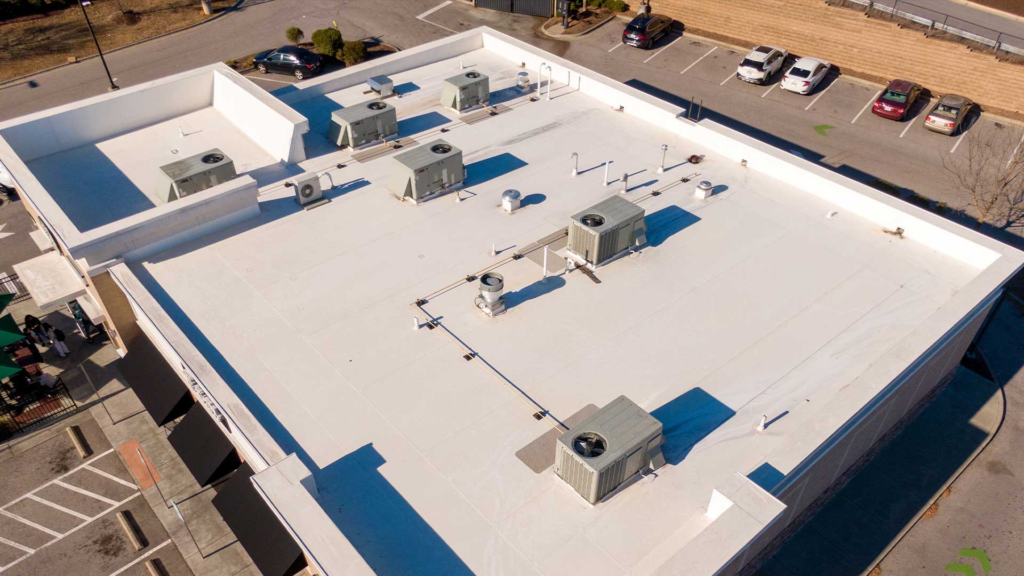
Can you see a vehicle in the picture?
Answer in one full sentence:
Yes, a vehicle can be made out from above.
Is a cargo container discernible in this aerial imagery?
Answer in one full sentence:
No, there is no cargo container in the image.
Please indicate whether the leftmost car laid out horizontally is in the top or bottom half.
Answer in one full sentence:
The top half of the photo is where the leftmost car laid out horizontally is.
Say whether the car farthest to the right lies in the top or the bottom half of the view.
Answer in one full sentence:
The car farthest to the right sits in the top half of the picture.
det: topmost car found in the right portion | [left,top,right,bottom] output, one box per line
[624,12,677,51]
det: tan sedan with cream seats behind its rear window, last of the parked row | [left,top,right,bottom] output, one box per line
[920,96,977,140]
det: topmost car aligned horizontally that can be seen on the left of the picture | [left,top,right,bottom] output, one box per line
[249,44,326,77]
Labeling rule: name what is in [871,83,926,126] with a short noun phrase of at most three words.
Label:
car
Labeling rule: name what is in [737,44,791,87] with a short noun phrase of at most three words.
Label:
car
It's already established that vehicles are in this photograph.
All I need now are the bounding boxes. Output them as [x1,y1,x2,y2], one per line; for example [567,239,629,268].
[737,44,791,87]
[778,60,832,99]
[920,96,977,140]
[624,12,677,51]
[871,83,926,126]
[249,44,326,77]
